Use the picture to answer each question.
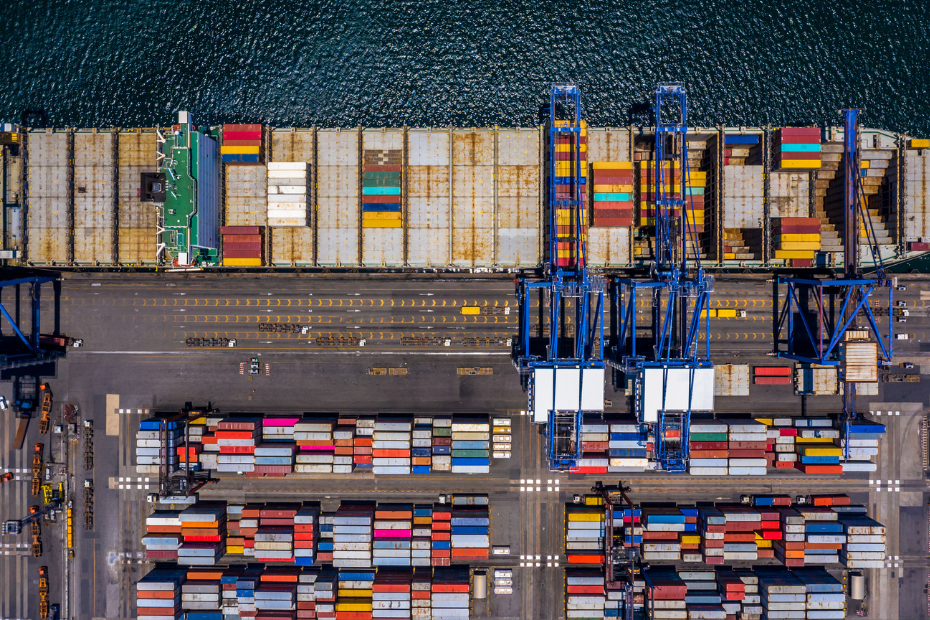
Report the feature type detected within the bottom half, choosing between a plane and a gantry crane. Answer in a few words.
gantry crane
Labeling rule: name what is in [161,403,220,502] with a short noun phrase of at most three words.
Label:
container crane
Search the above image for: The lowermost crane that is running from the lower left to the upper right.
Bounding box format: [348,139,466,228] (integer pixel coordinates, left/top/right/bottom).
[3,482,65,535]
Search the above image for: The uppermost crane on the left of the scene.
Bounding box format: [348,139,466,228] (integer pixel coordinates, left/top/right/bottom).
[0,279,66,367]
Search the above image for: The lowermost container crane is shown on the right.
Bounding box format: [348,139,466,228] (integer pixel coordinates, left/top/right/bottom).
[619,560,655,620]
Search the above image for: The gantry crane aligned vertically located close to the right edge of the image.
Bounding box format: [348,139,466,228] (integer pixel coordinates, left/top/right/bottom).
[760,103,901,462]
